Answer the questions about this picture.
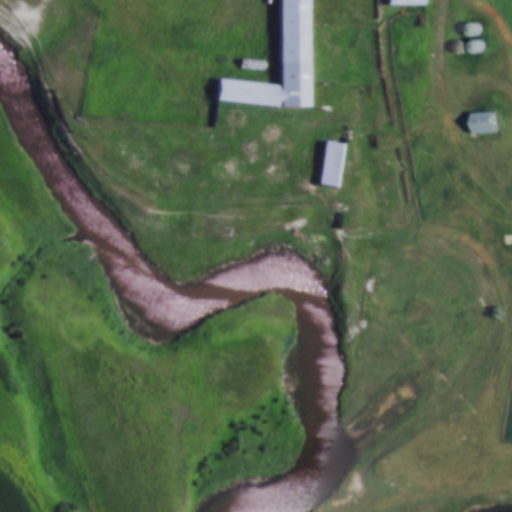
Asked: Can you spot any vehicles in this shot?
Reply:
No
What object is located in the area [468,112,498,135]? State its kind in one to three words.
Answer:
house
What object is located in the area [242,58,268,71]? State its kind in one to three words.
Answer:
shed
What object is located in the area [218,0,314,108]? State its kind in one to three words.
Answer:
barn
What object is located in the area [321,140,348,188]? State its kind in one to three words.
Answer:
shed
